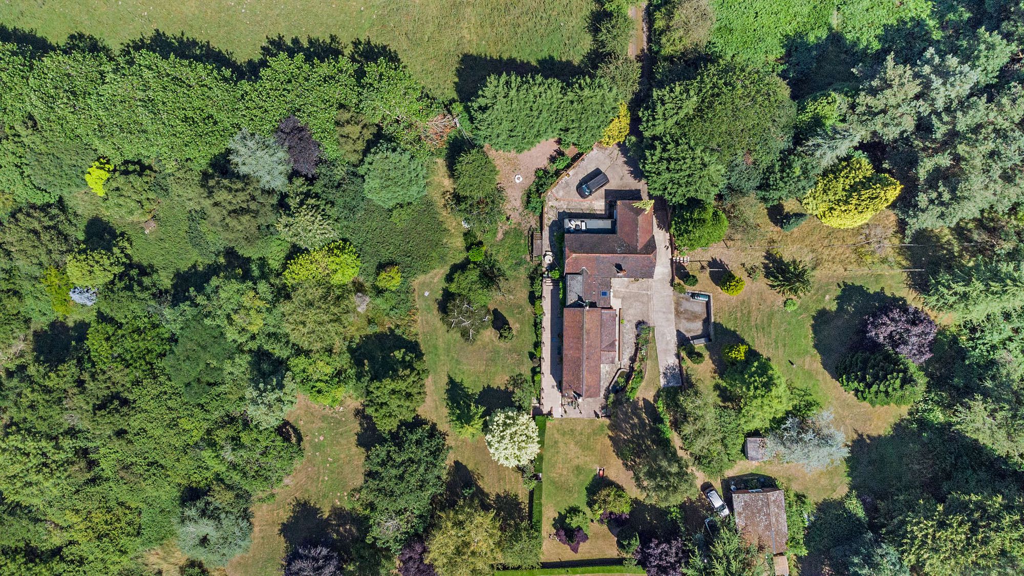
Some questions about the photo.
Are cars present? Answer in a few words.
Yes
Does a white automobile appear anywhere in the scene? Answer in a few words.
Yes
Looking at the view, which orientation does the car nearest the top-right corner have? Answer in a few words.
on a diagonal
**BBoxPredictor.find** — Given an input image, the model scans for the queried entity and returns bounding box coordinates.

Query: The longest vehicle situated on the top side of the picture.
[577,172,611,200]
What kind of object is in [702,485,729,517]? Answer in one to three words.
car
